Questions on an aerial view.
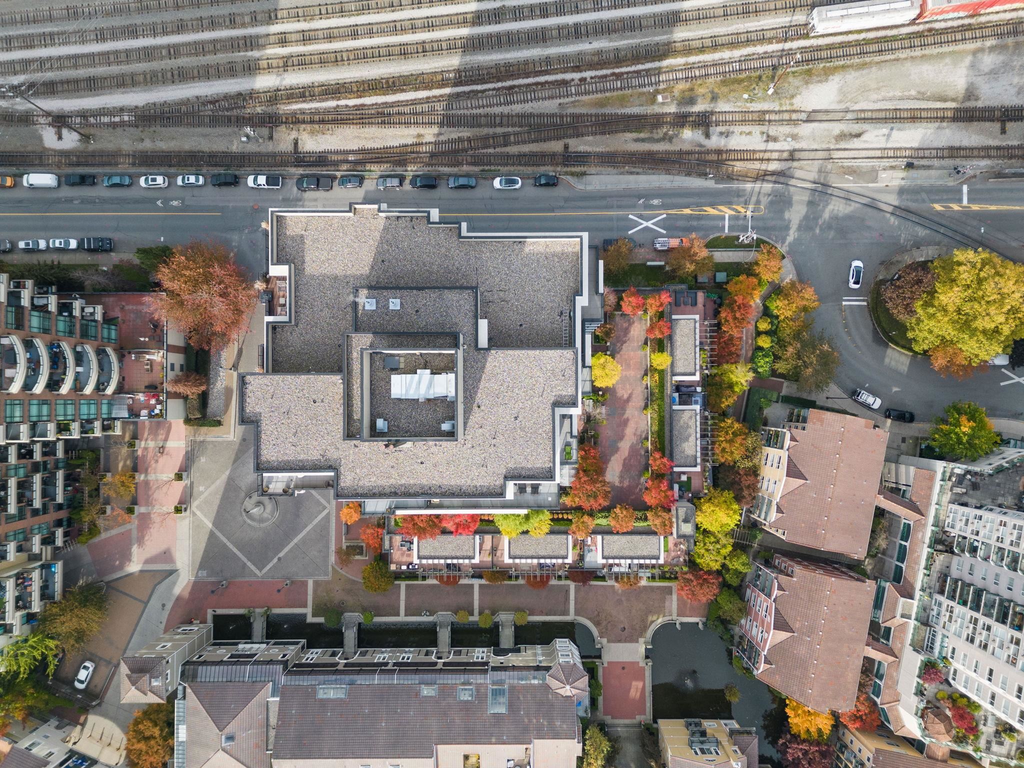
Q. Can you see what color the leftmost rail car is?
white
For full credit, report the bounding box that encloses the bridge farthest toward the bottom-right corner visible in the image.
[602,643,646,661]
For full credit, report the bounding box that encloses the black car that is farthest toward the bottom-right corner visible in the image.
[885,409,915,423]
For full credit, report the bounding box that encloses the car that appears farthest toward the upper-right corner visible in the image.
[848,260,864,289]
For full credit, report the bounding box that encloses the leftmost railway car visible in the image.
[811,0,925,32]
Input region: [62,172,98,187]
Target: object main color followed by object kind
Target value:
black vehicle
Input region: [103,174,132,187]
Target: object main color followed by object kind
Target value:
blue vehicle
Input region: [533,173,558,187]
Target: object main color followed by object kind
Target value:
black car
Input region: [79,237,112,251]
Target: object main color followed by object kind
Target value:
black vehicle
